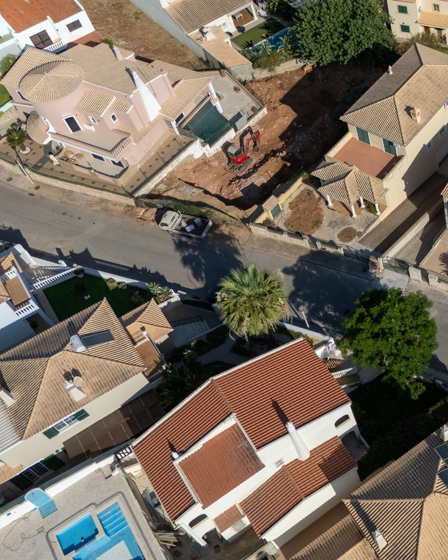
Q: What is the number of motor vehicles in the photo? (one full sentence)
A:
In total, there are 3 motor vehicles in the scene.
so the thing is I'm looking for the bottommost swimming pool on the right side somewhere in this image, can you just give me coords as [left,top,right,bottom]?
[247,27,300,57]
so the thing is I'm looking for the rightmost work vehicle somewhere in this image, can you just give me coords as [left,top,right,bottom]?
[226,141,261,179]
